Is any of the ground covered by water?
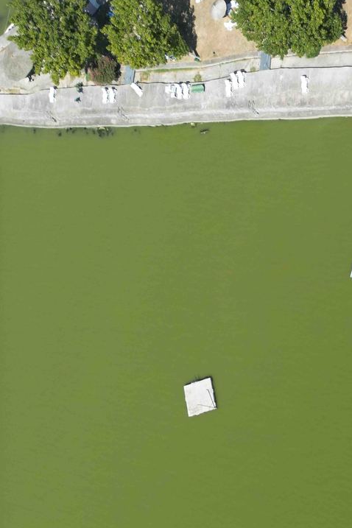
Yes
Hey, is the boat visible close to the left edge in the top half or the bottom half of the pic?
top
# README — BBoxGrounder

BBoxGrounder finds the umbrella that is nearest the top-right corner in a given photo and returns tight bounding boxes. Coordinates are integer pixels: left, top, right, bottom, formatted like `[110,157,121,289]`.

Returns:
[212,0,231,23]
